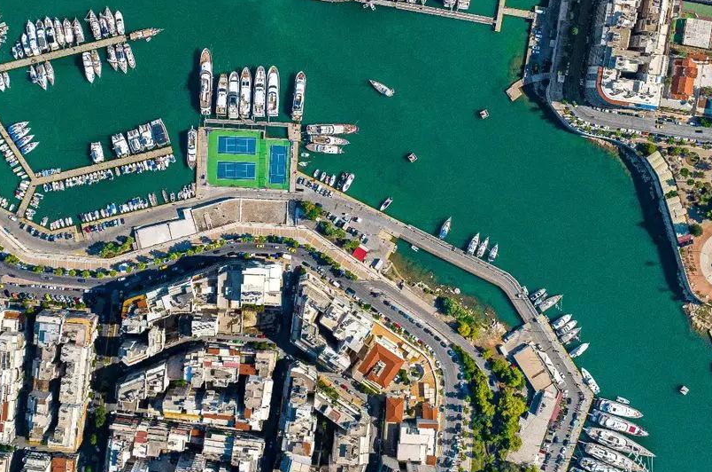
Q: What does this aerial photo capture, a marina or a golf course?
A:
marina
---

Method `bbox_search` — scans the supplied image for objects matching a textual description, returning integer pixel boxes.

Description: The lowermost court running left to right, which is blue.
[217,162,256,179]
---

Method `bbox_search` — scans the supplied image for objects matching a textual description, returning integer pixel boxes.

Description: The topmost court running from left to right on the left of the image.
[217,137,257,155]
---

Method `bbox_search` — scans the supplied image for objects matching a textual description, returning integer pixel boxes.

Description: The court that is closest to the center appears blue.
[270,145,287,183]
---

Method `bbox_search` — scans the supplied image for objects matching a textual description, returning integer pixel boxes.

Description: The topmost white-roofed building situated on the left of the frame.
[135,211,198,249]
